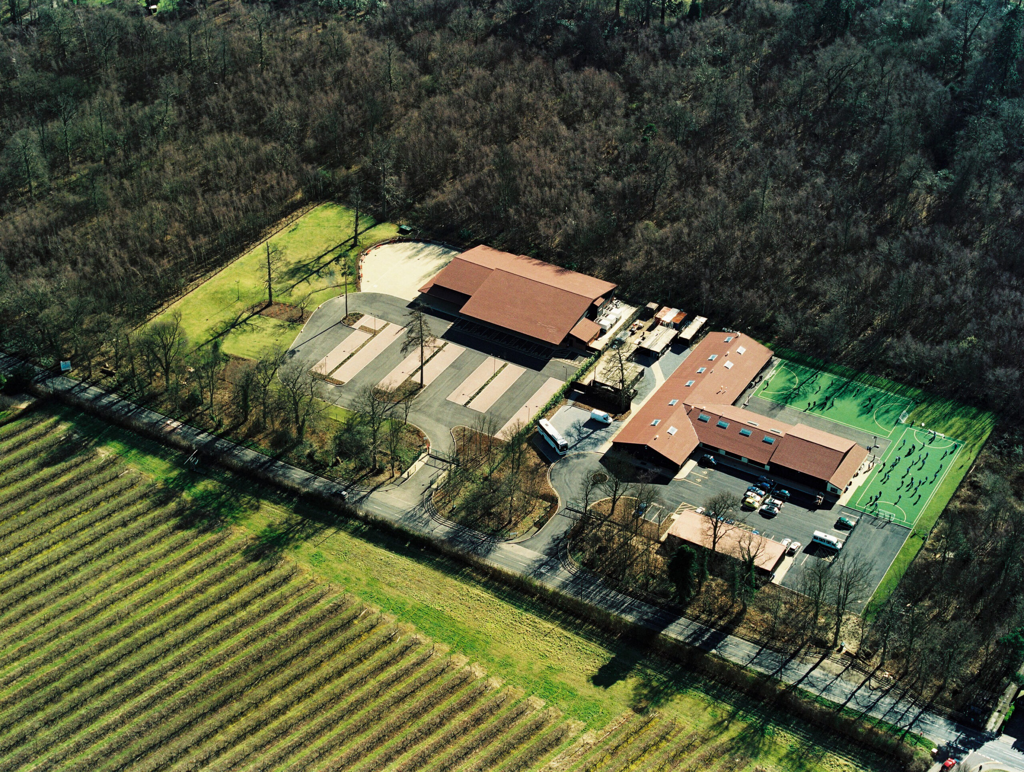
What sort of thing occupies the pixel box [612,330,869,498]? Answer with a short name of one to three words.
building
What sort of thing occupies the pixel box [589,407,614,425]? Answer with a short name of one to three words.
vehicle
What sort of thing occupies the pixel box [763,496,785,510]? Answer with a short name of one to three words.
car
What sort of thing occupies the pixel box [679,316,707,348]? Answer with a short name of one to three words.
shed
